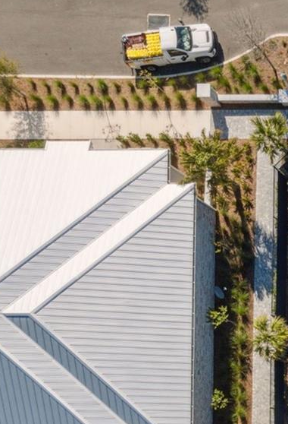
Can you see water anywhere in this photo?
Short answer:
No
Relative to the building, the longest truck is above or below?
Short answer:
above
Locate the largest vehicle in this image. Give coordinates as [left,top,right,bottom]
[119,19,219,70]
